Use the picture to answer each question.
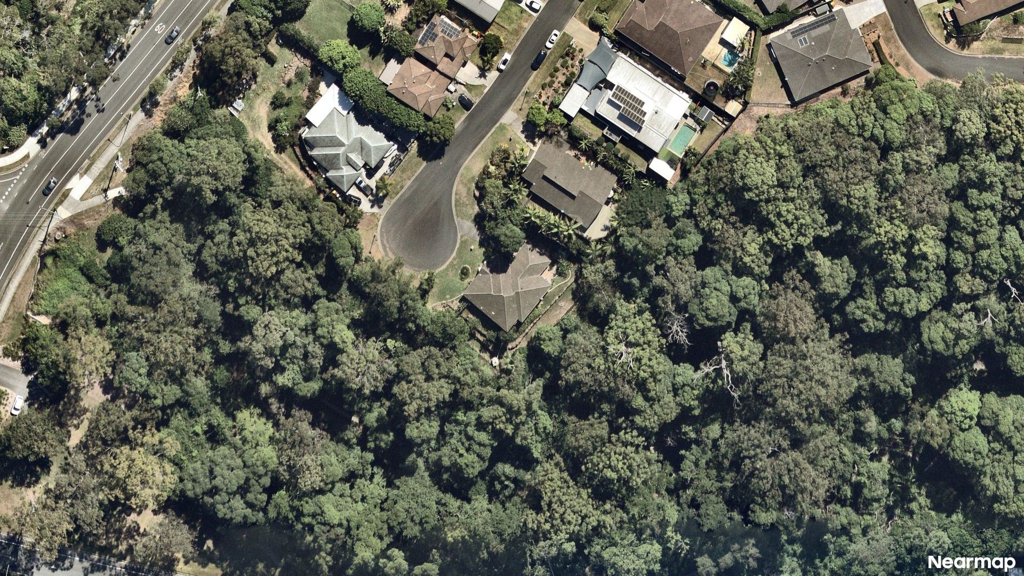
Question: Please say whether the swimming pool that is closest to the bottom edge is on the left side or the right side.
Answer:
right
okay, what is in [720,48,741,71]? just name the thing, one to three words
swimming pool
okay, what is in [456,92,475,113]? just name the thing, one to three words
car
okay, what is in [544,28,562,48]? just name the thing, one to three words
car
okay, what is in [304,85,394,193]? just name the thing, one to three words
house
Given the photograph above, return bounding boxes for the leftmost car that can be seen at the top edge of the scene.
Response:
[163,25,182,45]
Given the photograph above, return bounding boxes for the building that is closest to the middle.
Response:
[463,242,552,332]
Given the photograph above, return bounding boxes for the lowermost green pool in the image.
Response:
[667,121,698,156]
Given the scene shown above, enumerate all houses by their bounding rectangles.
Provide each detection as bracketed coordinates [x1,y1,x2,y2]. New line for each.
[521,138,618,230]
[559,54,692,153]
[379,58,452,118]
[769,8,872,102]
[615,0,724,77]
[952,0,1024,27]
[463,242,552,332]
[414,15,478,79]
[304,85,394,193]
[456,0,506,24]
